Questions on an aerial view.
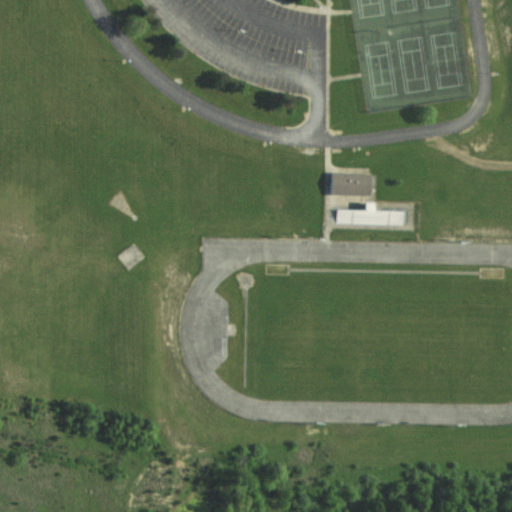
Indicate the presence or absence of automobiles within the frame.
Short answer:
No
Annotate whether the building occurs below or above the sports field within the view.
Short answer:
above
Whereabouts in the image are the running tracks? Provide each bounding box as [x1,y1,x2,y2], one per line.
[182,238,512,424]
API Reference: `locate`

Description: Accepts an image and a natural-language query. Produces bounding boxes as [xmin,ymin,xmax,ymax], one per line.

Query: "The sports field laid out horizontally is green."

[213,262,512,403]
